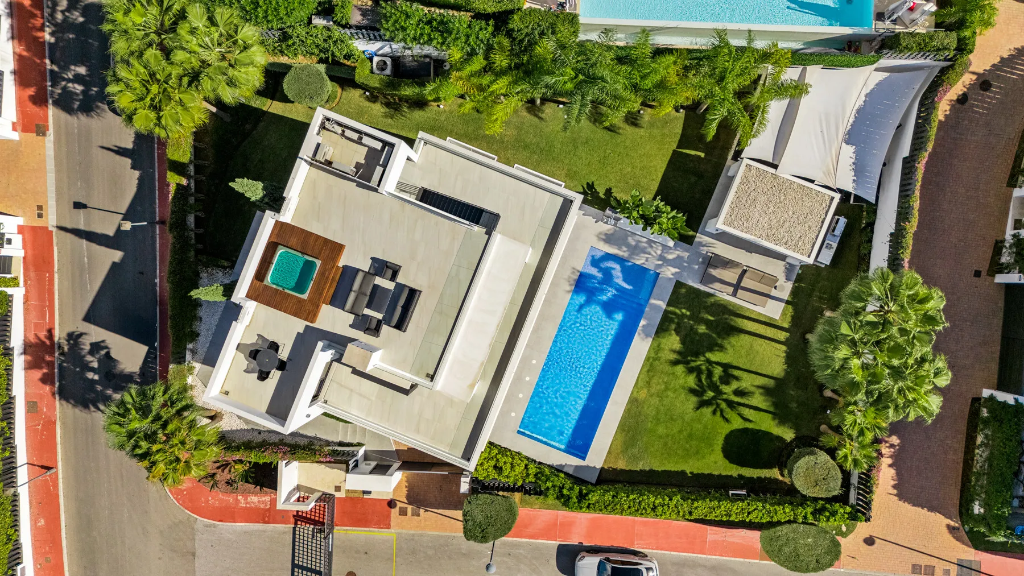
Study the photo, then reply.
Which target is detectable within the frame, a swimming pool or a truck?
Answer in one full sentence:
There is a swimming pool in the scene.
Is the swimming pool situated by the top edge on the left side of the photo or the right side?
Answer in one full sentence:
The swimming pool situated by the top edge sits on the right side.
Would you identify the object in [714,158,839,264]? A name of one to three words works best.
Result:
building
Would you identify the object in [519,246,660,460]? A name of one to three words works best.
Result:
swimming pool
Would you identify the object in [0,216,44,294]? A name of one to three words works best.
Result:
building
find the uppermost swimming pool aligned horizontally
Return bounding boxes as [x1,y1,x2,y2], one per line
[575,0,877,53]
